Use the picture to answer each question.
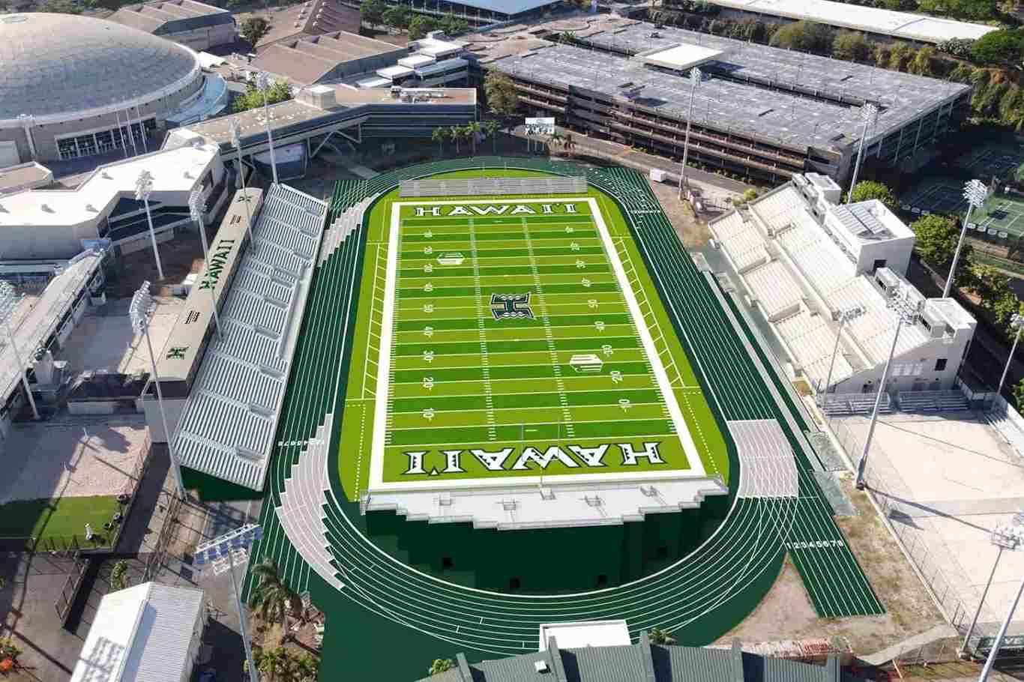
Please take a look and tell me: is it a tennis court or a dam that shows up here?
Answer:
tennis court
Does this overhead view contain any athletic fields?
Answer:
Yes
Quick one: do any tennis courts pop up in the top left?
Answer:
No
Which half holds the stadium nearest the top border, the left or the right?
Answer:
left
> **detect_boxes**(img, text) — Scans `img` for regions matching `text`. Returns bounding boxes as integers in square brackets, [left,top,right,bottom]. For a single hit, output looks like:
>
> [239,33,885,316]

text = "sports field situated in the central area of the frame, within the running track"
[338,168,726,501]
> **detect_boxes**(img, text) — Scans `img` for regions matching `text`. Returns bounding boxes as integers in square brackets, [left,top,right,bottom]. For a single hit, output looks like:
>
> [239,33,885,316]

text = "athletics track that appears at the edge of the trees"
[225,154,887,682]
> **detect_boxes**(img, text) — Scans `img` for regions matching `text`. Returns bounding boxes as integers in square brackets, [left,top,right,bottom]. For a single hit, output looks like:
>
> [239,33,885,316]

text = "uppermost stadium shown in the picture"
[0,12,257,167]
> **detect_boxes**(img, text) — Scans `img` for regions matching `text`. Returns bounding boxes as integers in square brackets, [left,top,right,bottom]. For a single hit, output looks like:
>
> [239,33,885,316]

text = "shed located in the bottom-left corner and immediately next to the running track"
[70,583,207,682]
